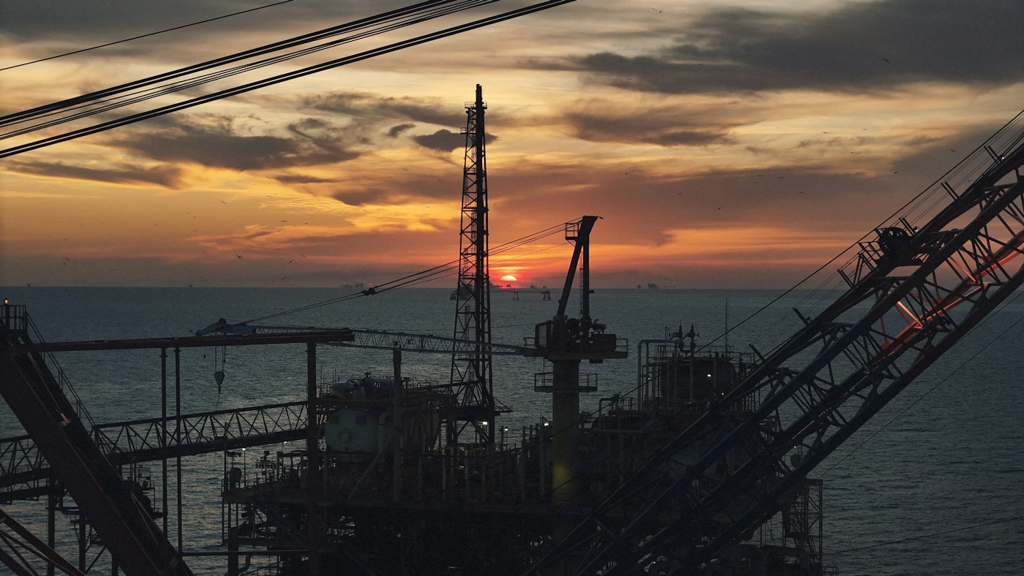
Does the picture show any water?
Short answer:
Yes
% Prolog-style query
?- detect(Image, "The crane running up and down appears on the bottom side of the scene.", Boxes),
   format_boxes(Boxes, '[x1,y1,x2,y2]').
[524,215,629,492]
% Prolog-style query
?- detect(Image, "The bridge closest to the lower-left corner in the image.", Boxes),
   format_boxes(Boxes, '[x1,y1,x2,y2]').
[0,400,327,507]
